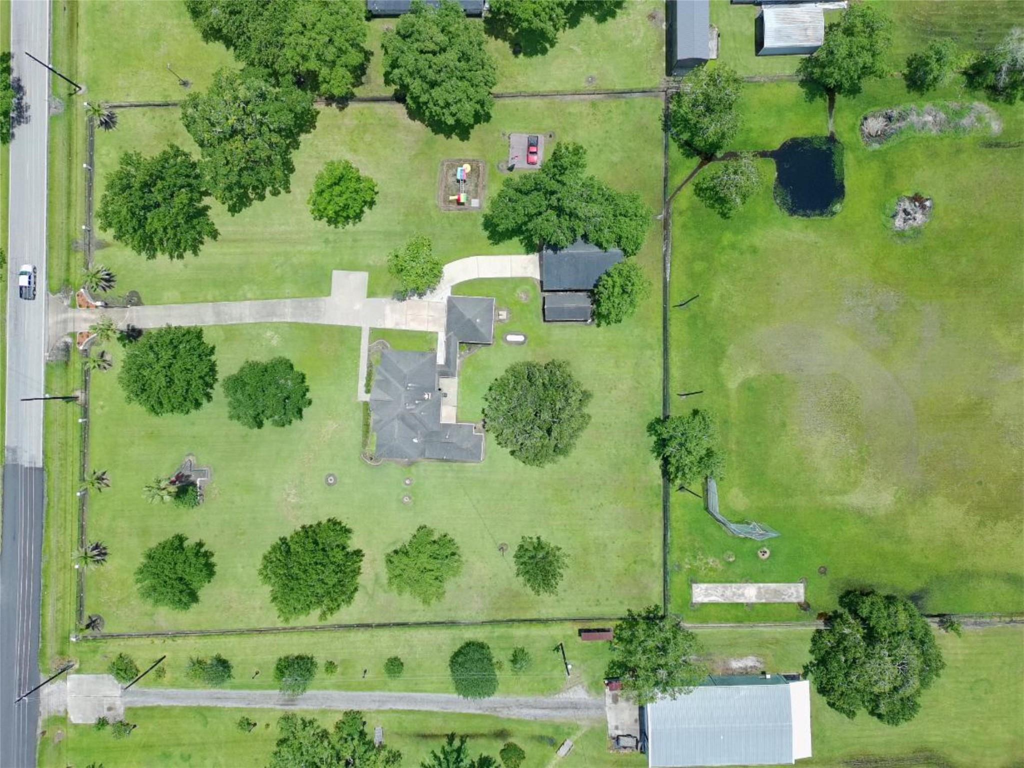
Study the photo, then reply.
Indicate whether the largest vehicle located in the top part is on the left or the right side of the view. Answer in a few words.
left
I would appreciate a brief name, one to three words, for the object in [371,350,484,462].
house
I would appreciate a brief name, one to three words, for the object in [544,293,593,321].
shed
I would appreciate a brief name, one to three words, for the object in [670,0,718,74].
barn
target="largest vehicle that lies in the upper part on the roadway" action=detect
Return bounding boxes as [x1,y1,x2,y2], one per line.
[18,264,38,301]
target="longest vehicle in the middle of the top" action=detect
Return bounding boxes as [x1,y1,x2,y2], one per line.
[526,134,540,165]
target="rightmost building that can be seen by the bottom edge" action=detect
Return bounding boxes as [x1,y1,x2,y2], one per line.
[642,672,811,768]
